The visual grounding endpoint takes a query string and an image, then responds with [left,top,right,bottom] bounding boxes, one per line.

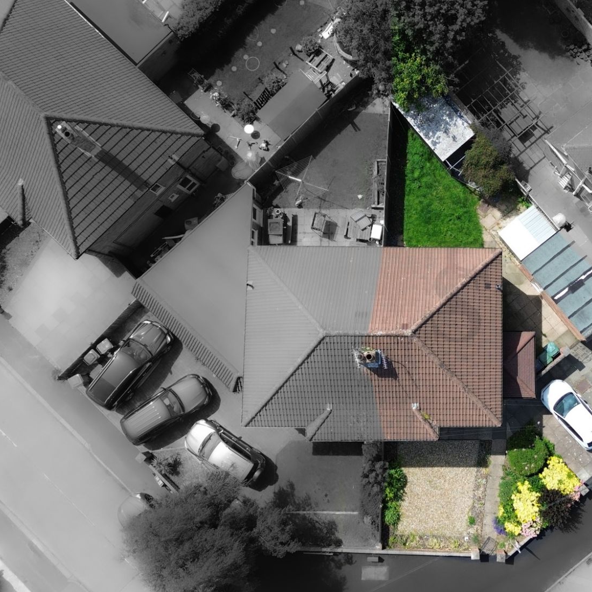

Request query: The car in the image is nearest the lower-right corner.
[537,376,592,456]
